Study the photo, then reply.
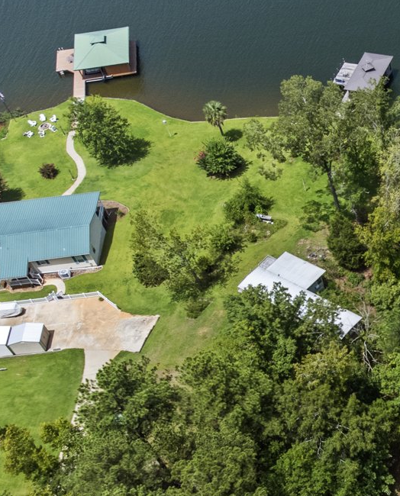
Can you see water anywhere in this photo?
Yes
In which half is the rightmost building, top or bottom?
top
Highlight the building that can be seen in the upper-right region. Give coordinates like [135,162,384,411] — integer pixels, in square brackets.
[339,51,393,113]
